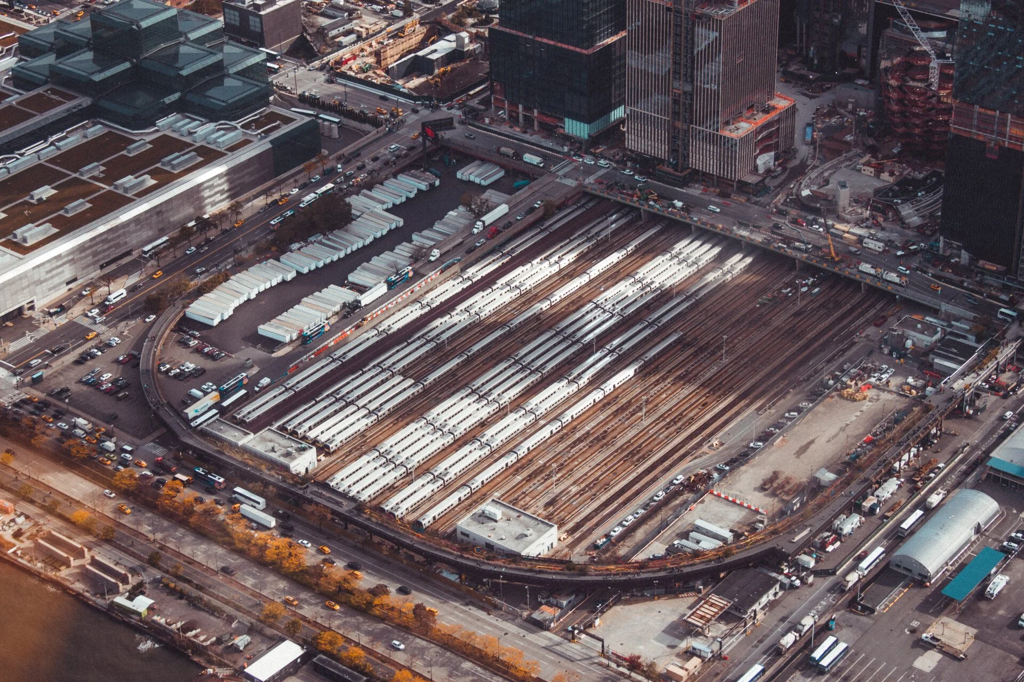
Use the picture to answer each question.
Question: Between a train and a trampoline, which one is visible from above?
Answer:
train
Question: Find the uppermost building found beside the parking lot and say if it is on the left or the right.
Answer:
left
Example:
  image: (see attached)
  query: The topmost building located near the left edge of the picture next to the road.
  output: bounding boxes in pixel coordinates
[0,0,311,333]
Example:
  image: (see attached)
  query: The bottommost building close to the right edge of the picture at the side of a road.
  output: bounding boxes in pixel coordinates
[890,485,1005,584]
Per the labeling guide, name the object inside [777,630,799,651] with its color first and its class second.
white truck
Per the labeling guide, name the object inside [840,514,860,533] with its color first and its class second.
white vehicle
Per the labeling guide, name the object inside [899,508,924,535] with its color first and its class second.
white bus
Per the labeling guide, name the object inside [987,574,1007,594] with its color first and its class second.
white vehicle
